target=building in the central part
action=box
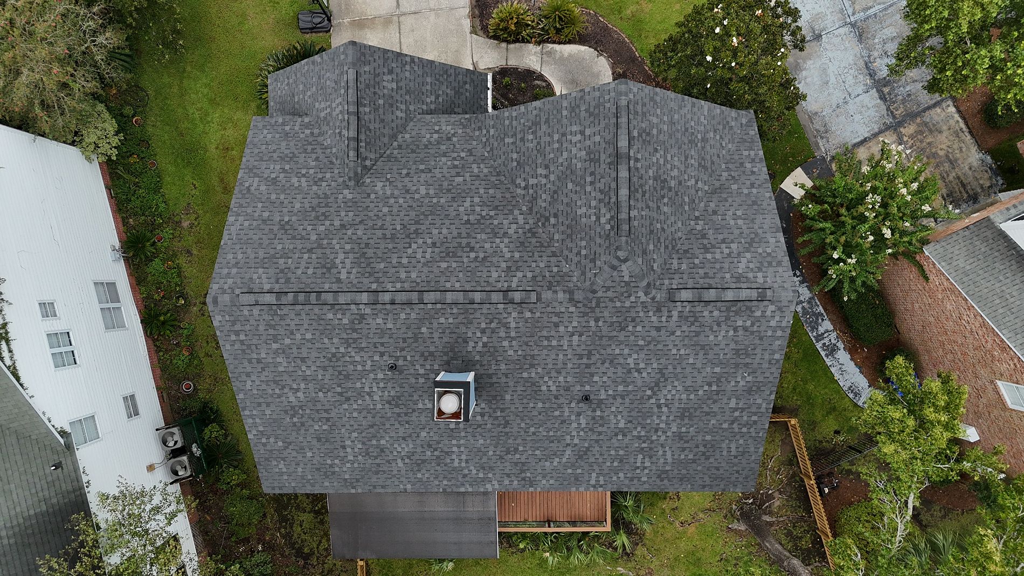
[207,41,797,558]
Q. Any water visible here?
No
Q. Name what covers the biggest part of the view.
buildings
